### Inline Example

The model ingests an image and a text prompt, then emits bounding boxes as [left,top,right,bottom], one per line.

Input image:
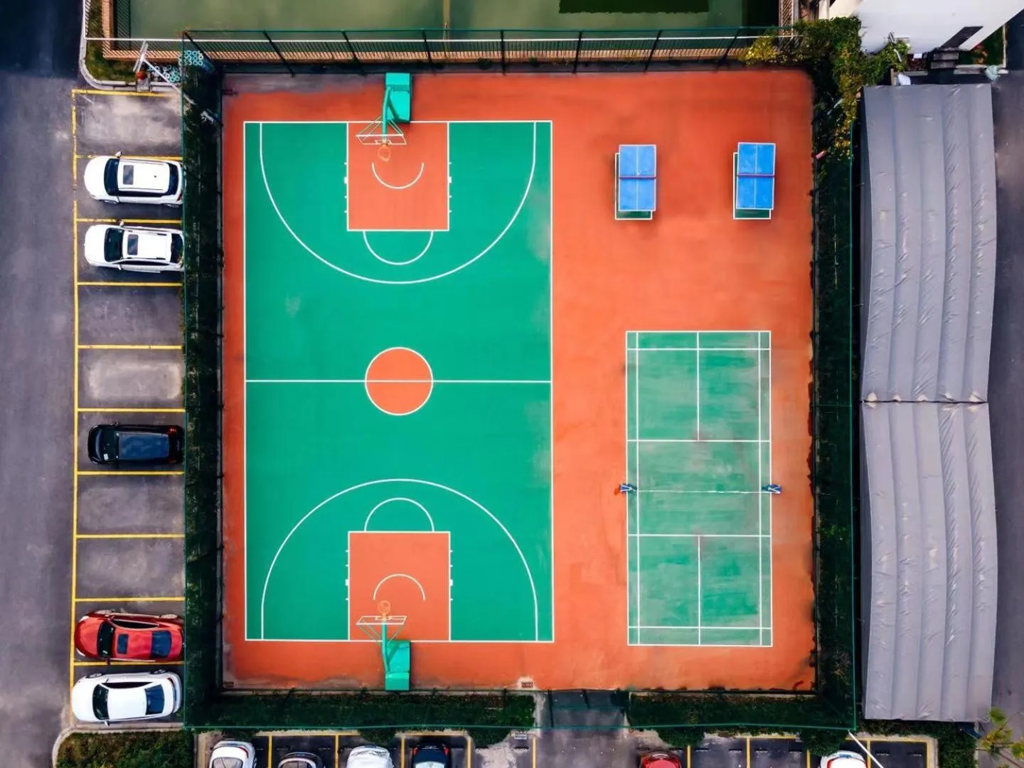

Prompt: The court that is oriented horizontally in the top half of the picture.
[114,0,779,50]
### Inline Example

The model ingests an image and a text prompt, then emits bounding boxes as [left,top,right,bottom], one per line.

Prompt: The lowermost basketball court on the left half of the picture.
[244,120,554,642]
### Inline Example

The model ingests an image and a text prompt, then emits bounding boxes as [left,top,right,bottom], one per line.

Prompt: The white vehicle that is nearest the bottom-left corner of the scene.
[72,666,186,723]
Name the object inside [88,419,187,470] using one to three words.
car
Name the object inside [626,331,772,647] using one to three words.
sports court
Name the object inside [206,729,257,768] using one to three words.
car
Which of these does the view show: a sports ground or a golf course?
sports ground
